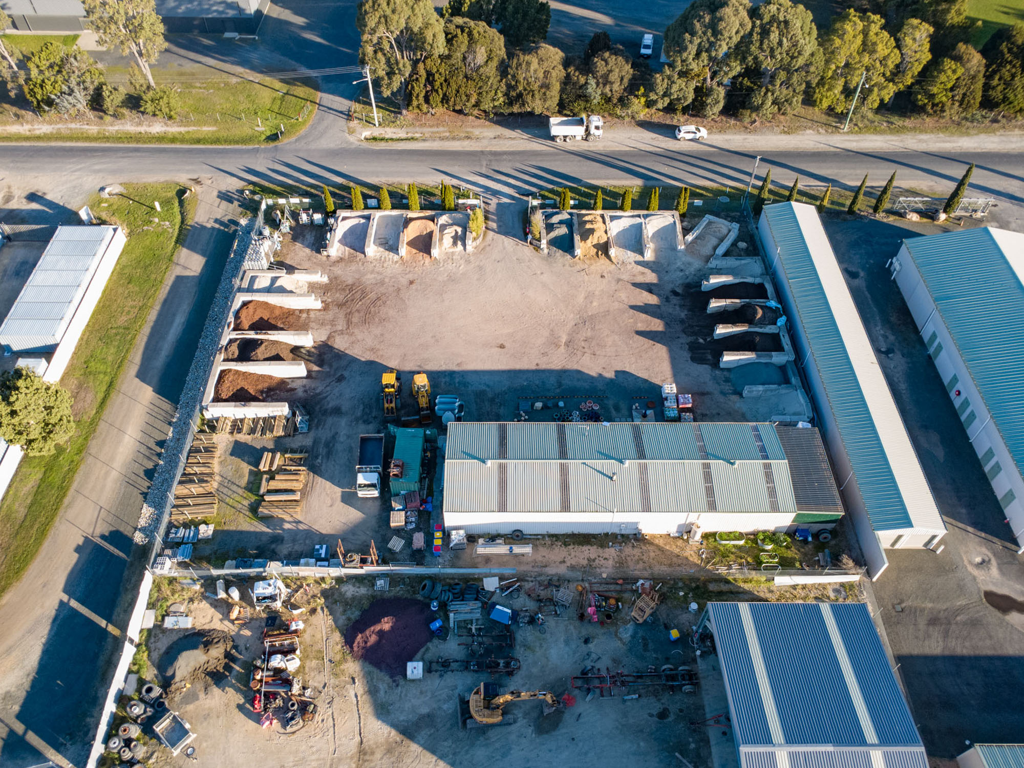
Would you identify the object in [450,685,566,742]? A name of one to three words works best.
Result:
work vehicle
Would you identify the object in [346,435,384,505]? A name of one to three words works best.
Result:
truck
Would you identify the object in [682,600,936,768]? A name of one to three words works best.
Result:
building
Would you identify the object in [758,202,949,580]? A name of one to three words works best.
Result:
shed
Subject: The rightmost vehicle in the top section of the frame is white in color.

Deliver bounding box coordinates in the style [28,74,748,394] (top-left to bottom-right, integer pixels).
[676,124,710,141]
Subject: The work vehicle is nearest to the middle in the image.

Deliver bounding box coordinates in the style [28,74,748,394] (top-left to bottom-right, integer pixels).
[409,366,436,426]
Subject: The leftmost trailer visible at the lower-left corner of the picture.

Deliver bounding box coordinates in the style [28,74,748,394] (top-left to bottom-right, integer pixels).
[147,711,192,768]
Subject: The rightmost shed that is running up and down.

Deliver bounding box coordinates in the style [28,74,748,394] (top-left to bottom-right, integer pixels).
[892,228,1024,551]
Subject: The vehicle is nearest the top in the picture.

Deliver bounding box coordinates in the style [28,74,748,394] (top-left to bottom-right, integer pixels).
[640,34,655,56]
